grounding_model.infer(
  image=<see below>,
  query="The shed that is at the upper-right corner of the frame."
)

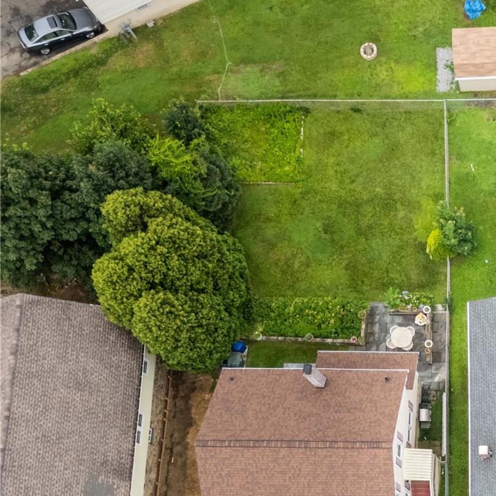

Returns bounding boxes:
[452,26,496,95]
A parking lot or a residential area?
residential area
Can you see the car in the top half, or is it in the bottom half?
top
